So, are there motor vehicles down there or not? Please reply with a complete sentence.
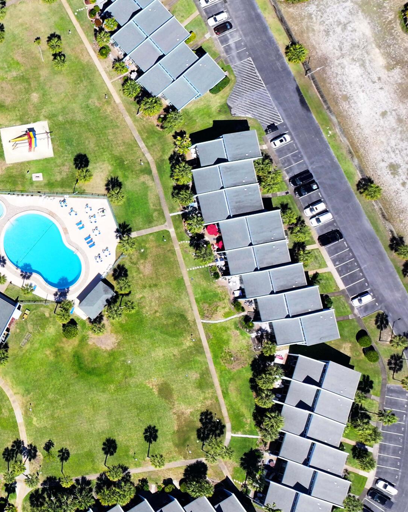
Yes, a motor vehicle is visible in the scene.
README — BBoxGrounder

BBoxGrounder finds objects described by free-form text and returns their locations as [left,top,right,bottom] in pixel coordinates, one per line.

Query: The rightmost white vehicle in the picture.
[375,480,397,497]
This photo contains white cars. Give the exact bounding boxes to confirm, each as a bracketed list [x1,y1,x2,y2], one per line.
[207,11,228,26]
[271,134,291,149]
[311,211,332,227]
[350,292,372,307]
[375,480,397,497]
[303,202,325,217]
[200,0,216,8]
